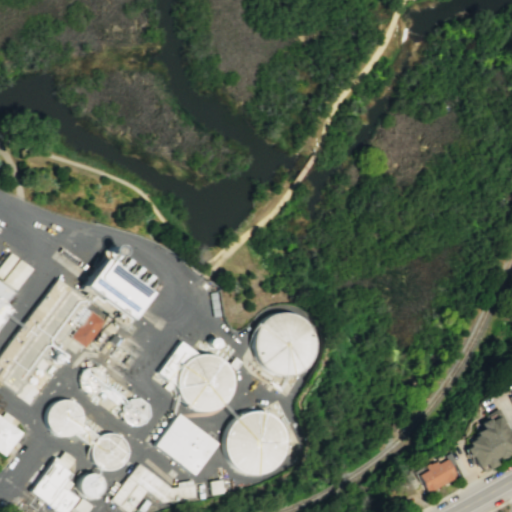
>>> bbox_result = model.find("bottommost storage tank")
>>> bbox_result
[78,472,108,500]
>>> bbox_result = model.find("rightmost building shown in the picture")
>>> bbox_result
[468,414,512,470]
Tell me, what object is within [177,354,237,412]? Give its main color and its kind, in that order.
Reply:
white storage tank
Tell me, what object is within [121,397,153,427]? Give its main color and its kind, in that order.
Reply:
white storage tank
